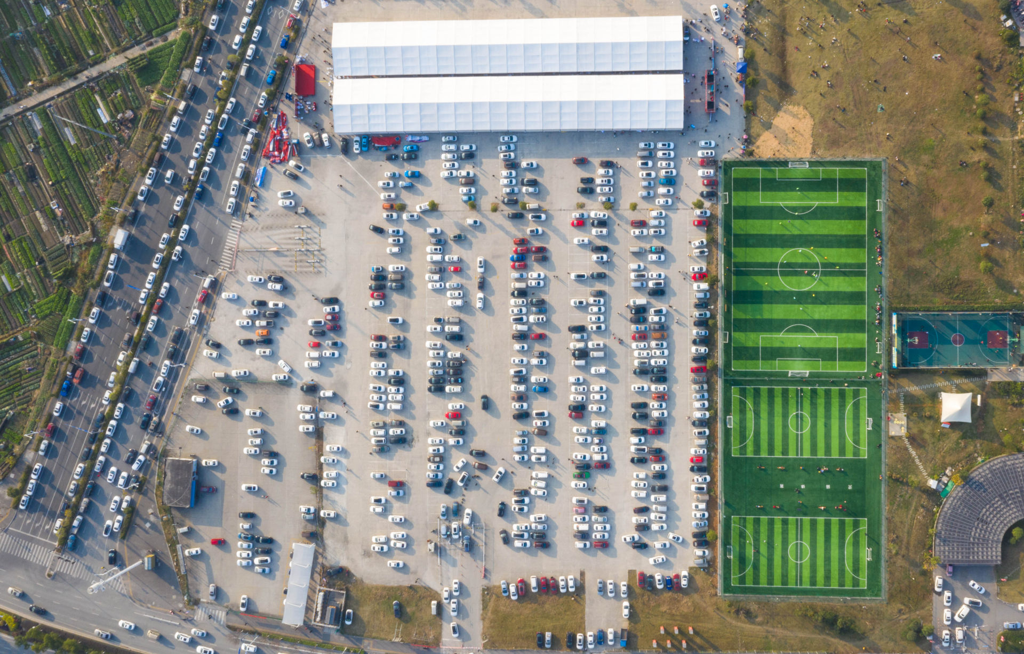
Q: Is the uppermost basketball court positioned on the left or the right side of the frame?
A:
right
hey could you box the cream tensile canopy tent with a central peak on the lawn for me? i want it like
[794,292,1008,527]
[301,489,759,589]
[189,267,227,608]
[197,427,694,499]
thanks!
[935,391,972,423]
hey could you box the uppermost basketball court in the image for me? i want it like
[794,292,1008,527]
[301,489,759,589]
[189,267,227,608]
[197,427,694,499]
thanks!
[894,311,1024,368]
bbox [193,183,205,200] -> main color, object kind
blue vehicle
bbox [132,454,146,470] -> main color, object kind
white car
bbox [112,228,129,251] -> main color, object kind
white vehicle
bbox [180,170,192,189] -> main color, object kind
gray vehicle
